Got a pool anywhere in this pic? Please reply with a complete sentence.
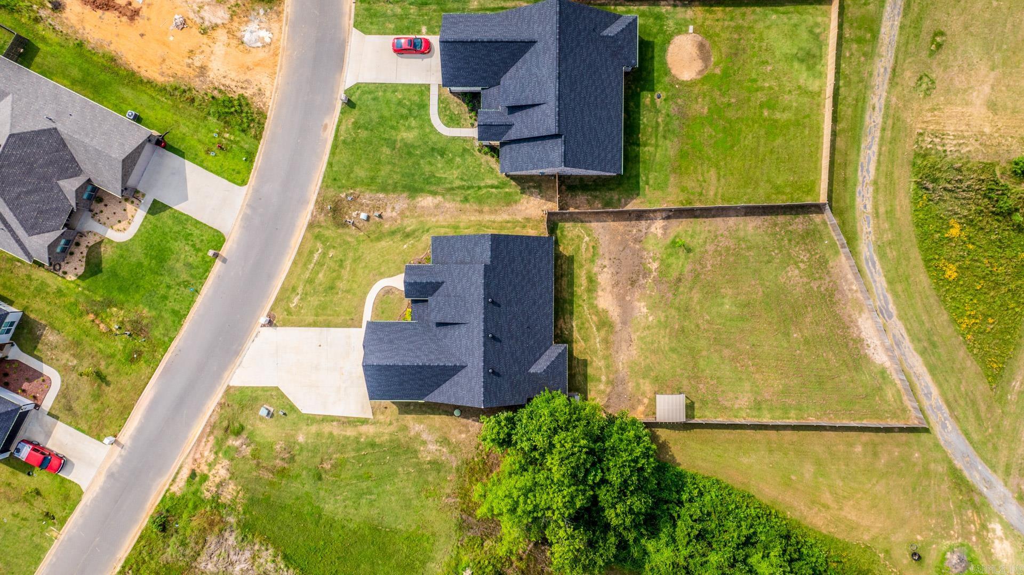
No, this view has no pool in it.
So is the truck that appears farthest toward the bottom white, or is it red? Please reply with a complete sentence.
The truck that appears farthest toward the bottom looks red in the image.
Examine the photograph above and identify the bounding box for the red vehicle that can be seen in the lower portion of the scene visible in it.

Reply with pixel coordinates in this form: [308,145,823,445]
[11,439,65,475]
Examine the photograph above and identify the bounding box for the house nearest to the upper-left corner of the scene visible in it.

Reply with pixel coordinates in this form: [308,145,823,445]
[0,58,160,266]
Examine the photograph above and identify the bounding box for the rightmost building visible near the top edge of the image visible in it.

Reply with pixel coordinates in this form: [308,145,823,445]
[440,0,639,176]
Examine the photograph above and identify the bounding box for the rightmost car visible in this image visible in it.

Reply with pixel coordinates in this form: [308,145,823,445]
[391,36,430,55]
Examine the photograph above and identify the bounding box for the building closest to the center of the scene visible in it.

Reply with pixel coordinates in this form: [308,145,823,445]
[362,233,569,408]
